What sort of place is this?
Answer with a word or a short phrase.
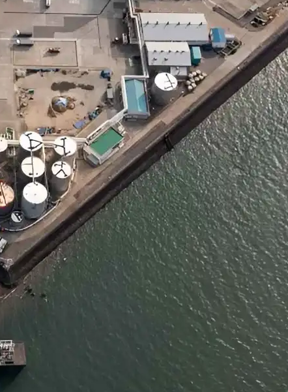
industrial area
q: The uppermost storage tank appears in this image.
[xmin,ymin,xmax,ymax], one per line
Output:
[149,72,178,106]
